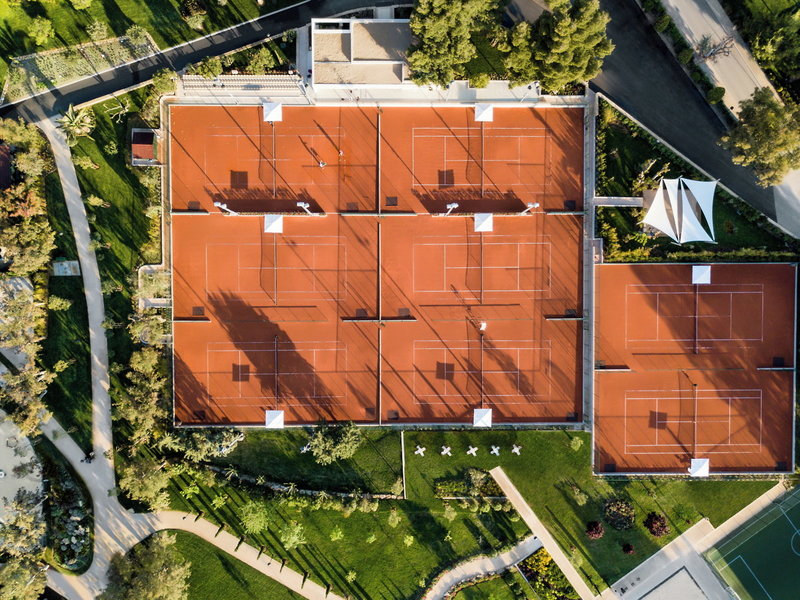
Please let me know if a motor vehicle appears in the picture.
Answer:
No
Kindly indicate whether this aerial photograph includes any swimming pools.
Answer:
No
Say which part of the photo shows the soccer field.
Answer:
bottom right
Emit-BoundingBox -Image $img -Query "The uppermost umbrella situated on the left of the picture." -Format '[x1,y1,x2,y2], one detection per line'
[262,102,282,122]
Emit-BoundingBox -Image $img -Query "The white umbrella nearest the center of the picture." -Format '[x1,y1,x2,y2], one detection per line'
[474,213,493,232]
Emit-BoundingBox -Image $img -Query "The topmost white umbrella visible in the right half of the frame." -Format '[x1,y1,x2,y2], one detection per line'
[475,103,493,122]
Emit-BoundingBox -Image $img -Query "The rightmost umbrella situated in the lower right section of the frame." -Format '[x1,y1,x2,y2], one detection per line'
[688,458,708,476]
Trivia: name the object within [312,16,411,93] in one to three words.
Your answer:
building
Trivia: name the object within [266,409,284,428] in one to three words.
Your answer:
umbrella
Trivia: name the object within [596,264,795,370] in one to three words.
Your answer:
tennis court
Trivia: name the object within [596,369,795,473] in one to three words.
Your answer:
tennis court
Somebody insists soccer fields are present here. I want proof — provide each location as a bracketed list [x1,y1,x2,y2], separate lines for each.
[704,480,800,600]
